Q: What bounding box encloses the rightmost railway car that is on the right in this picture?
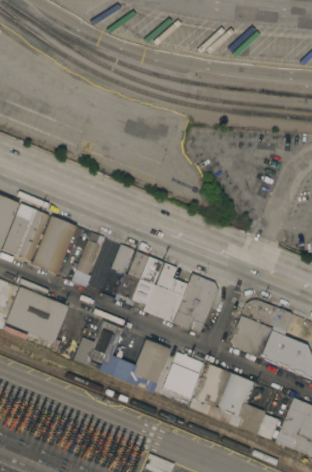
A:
[250,448,280,466]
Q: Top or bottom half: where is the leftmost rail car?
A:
bottom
